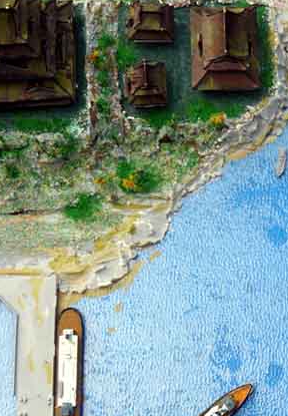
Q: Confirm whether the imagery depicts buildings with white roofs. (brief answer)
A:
No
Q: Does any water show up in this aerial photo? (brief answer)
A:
Yes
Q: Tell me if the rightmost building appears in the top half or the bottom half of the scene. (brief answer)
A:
top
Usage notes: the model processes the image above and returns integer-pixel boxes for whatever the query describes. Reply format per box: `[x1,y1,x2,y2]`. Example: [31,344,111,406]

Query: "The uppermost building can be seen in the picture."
[127,0,176,46]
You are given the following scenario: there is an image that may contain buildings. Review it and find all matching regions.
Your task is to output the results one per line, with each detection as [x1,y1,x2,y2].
[127,0,176,46]
[121,54,169,110]
[0,0,74,107]
[190,0,263,96]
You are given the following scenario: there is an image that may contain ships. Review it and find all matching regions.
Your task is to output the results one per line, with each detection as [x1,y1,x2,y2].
[199,385,252,416]
[55,308,86,416]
